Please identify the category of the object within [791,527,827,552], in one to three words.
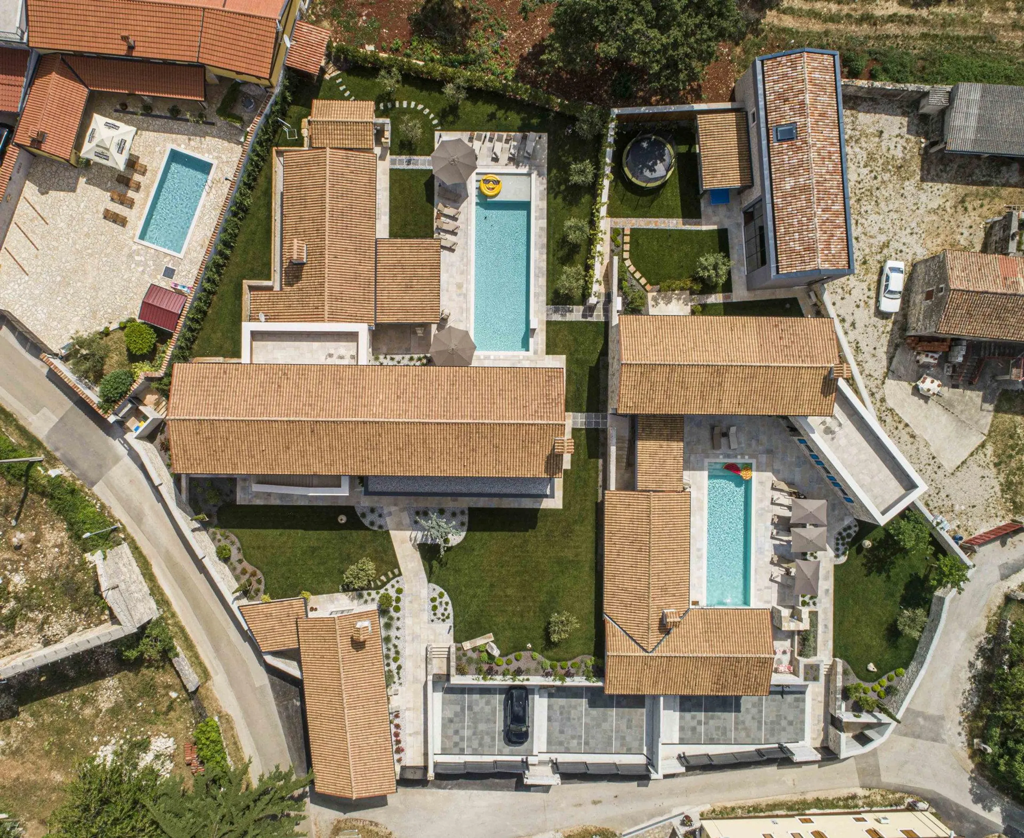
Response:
umbrella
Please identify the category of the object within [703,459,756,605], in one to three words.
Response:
swimming pool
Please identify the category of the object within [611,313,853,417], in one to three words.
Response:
house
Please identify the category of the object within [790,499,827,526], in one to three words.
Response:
umbrella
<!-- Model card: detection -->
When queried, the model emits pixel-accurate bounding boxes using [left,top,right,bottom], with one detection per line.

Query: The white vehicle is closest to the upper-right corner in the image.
[875,259,905,315]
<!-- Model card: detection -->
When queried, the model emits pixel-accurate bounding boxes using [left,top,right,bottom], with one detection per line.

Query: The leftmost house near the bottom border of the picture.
[296,604,401,799]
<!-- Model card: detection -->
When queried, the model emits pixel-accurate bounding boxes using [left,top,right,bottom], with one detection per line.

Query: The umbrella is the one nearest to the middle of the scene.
[430,326,476,367]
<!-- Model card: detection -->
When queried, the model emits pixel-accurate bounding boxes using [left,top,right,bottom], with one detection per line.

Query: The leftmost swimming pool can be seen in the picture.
[133,144,218,259]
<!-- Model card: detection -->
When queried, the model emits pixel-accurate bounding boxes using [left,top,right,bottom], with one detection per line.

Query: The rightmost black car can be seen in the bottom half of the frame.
[504,684,531,744]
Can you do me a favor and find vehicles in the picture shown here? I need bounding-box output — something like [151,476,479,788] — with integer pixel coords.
[875,259,905,315]
[504,684,531,744]
[0,118,18,170]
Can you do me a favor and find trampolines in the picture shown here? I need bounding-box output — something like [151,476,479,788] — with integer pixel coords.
[623,130,678,188]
